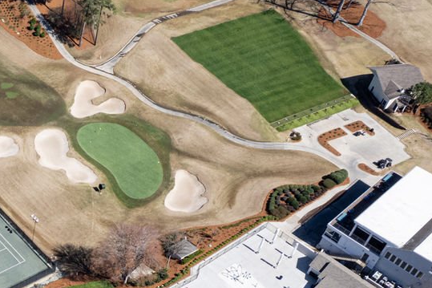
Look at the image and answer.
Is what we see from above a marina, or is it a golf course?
golf course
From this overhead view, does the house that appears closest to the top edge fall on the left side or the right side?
right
